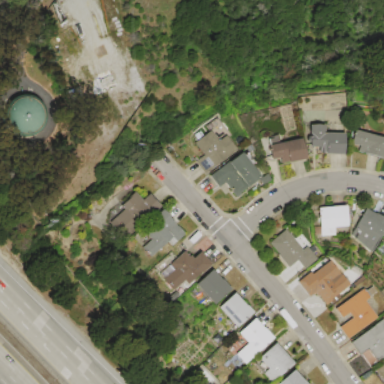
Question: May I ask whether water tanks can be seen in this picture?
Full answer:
Yes, there's a water tank here.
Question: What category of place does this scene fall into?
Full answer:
This image shows a residential area.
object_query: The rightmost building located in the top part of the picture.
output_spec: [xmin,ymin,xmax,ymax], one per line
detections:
[350,128,384,157]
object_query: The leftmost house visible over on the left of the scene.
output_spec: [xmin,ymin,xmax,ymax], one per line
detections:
[110,192,164,231]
